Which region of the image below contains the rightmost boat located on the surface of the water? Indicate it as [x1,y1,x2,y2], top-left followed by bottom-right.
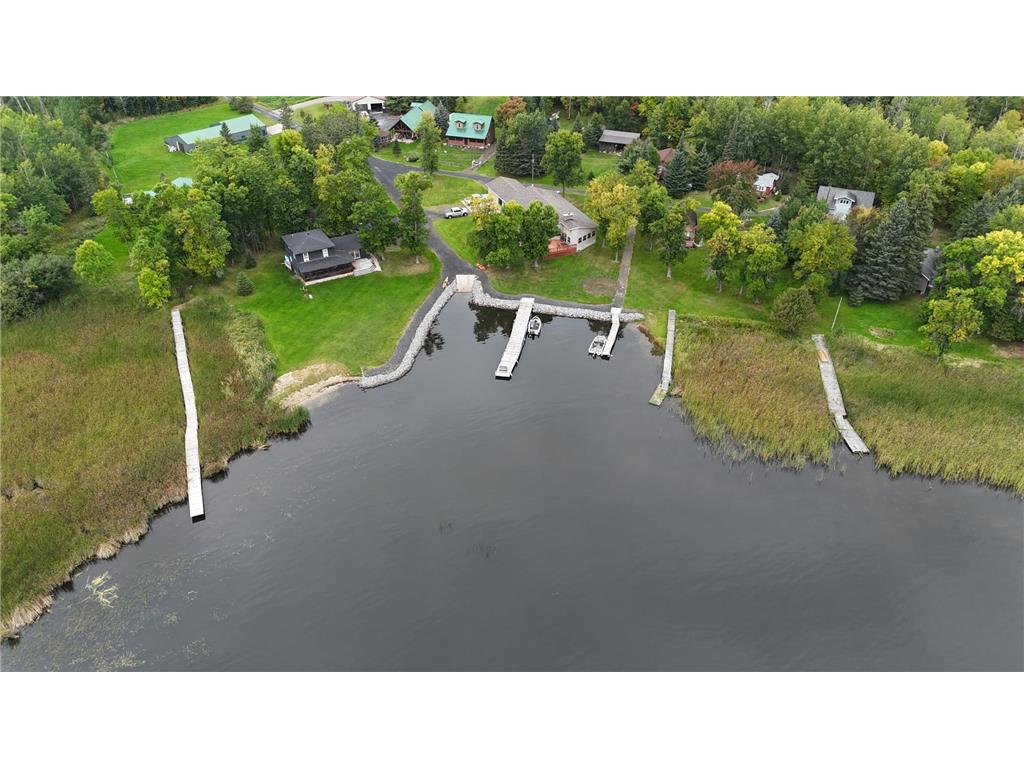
[588,335,603,357]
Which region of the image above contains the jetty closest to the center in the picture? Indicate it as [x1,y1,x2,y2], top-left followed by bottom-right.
[496,297,535,380]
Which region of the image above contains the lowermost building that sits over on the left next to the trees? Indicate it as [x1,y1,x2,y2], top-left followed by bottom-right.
[284,230,372,285]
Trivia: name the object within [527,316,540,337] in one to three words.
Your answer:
boat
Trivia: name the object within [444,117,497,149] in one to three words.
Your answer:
building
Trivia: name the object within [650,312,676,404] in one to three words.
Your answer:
pier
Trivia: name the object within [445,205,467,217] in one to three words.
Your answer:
vehicle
